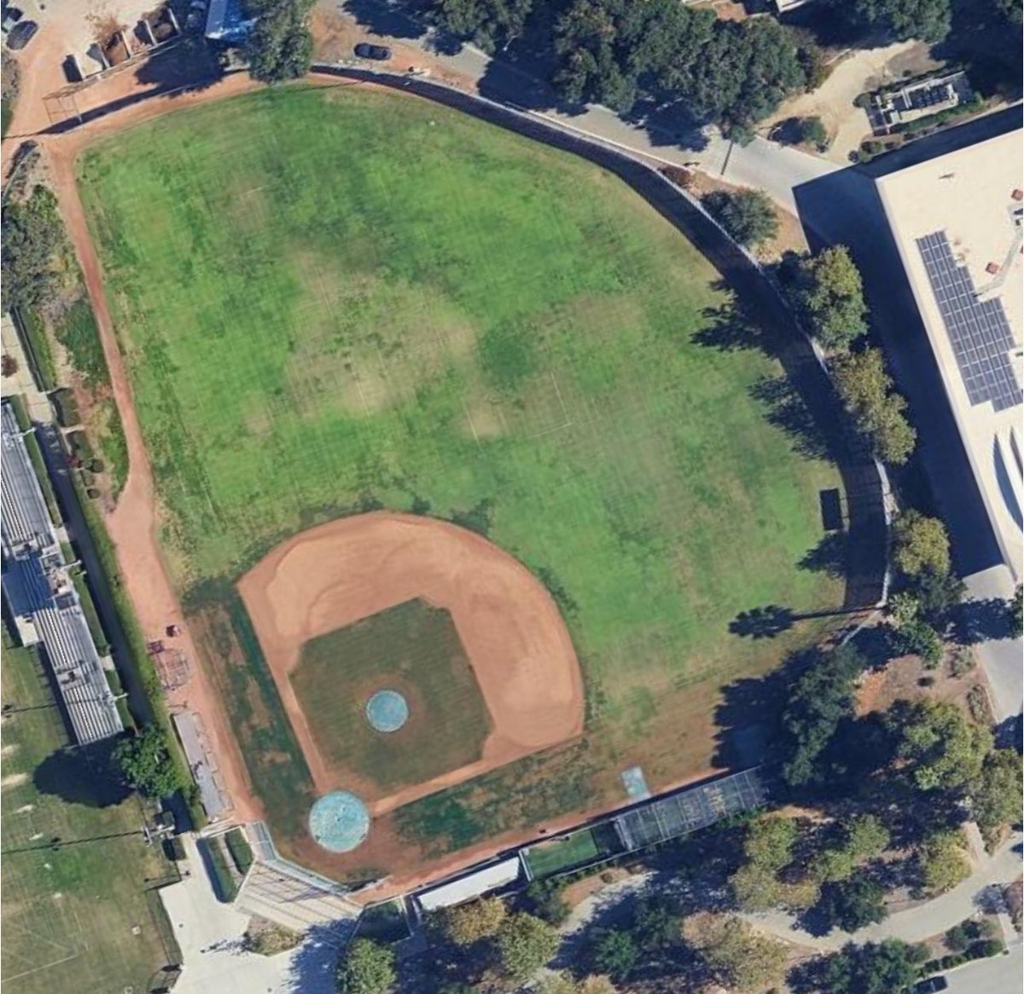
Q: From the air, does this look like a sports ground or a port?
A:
sports ground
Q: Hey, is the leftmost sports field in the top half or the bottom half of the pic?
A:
bottom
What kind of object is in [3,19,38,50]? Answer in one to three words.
car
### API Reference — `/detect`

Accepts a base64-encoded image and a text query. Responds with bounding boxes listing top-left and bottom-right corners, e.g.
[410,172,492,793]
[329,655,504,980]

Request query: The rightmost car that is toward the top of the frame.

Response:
[356,42,391,59]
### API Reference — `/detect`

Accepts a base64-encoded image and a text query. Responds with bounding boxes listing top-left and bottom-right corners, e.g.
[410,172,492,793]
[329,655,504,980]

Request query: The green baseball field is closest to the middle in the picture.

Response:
[43,67,888,906]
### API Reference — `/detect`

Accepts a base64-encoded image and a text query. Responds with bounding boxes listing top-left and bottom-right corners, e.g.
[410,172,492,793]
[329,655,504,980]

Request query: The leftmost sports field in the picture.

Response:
[0,591,181,994]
